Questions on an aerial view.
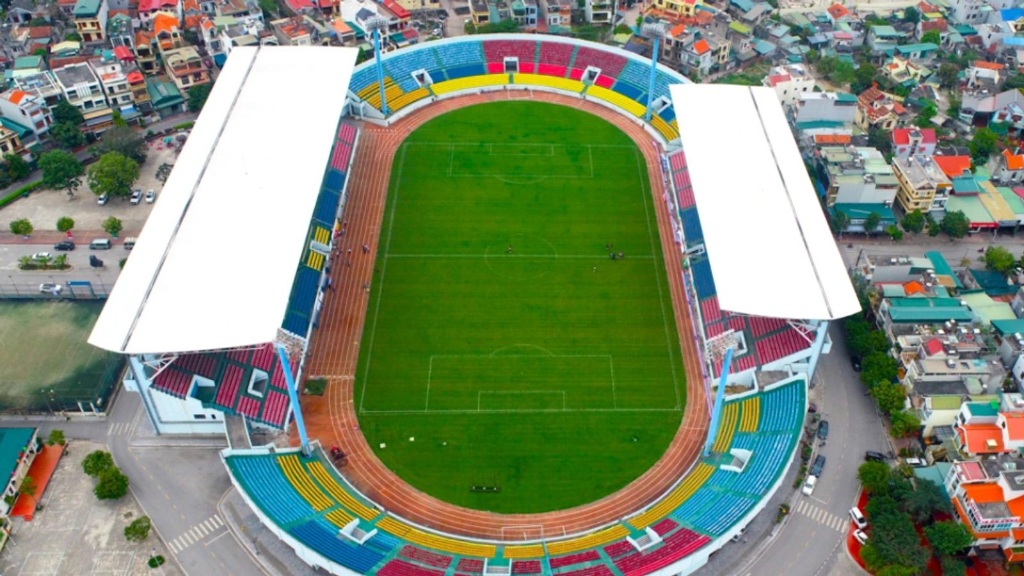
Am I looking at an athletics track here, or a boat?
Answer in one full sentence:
Looking from above, you can make out an athletics track.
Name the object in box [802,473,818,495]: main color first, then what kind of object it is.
white car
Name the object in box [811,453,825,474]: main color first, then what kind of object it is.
blue car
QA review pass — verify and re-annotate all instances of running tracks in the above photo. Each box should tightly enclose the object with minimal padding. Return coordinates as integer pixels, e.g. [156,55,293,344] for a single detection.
[283,89,718,542]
